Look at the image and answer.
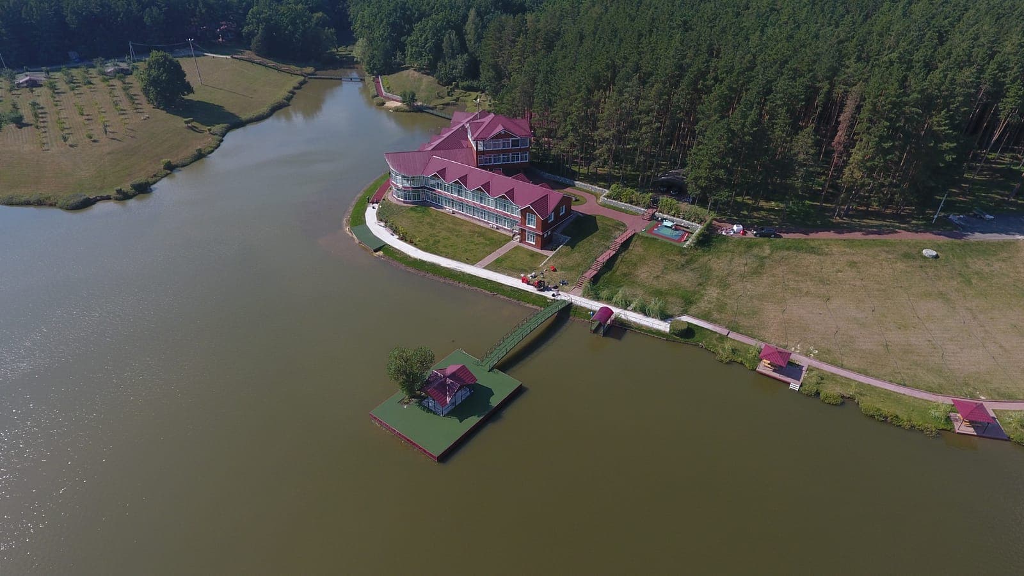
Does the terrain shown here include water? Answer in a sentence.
Yes, there is water in the image.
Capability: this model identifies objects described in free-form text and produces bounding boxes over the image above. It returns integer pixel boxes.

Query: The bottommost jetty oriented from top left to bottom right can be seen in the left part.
[351,225,386,256]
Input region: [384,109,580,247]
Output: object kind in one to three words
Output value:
building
